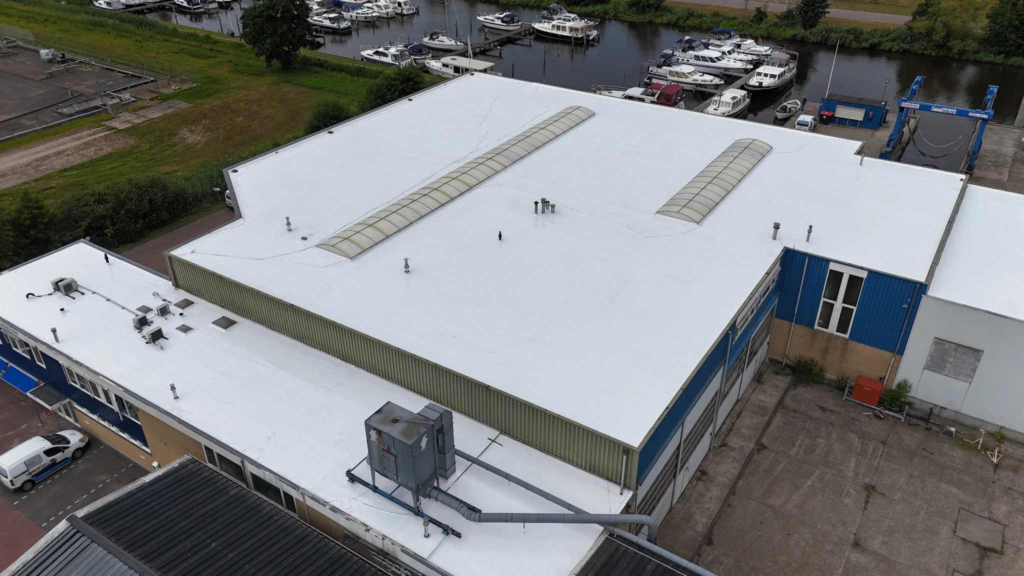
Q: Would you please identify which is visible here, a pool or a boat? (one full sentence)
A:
The one in the frame is a boat.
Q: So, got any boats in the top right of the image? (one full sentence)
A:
Yes, a boat is visible in the top right of the image.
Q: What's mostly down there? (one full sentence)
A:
For the most part, this view shows buildings.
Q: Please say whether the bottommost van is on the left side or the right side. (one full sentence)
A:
The bottommost van is on the left side of the image.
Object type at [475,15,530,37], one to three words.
boat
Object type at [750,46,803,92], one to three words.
boat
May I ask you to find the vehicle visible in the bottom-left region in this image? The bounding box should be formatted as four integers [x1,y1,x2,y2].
[0,429,88,495]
